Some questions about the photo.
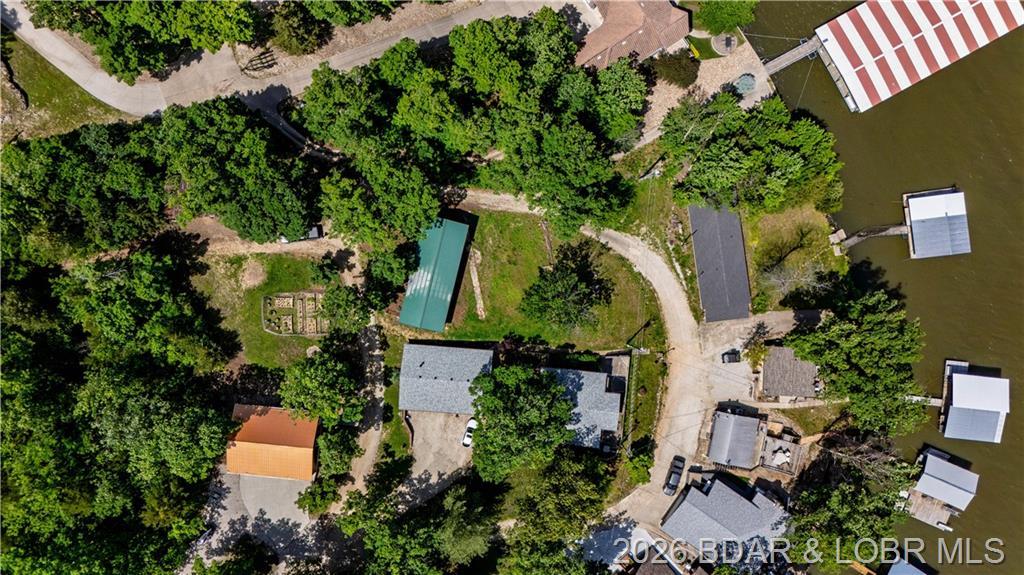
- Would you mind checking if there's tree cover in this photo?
Yes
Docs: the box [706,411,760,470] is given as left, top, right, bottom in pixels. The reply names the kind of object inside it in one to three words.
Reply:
house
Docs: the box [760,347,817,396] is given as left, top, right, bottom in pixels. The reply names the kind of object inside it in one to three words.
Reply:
house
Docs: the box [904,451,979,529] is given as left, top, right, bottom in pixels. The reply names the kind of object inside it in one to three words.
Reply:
pier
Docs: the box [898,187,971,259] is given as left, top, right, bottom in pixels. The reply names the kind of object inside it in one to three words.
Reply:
pier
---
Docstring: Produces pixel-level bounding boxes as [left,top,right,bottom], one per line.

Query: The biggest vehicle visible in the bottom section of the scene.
[664,455,688,497]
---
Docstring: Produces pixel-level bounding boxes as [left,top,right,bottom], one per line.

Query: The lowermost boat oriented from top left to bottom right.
[944,506,963,518]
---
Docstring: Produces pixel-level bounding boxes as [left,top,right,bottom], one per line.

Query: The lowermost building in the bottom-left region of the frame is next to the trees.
[225,404,322,480]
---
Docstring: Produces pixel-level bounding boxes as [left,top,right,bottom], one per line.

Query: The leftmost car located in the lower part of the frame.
[460,418,477,450]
